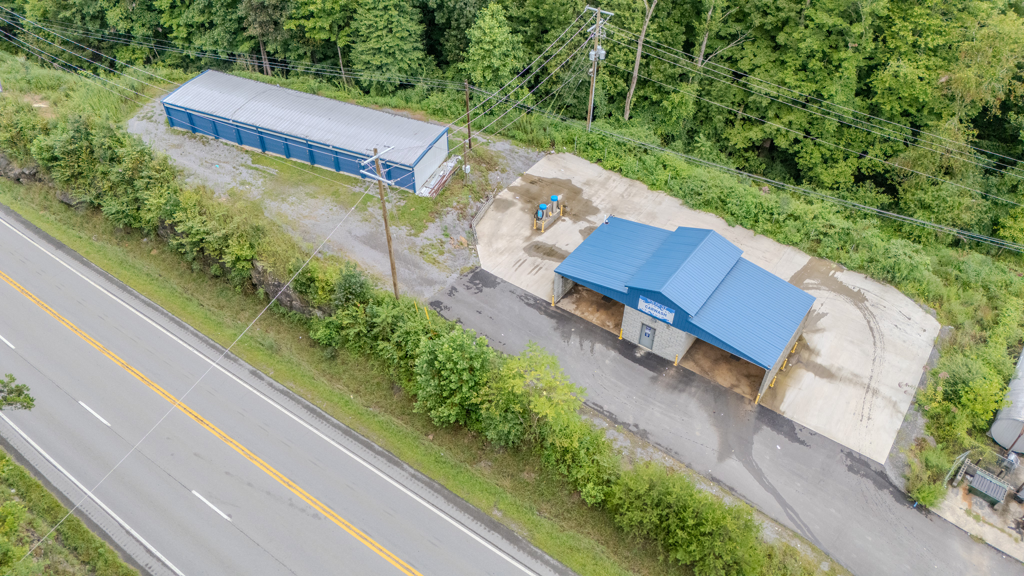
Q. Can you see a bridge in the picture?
No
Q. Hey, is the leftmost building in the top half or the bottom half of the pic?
top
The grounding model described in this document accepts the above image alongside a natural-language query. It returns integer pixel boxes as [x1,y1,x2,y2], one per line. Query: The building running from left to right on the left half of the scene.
[161,68,453,193]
